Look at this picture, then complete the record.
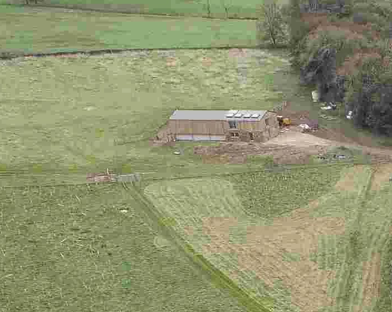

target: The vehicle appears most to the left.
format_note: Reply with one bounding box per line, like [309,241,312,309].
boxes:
[272,114,293,127]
